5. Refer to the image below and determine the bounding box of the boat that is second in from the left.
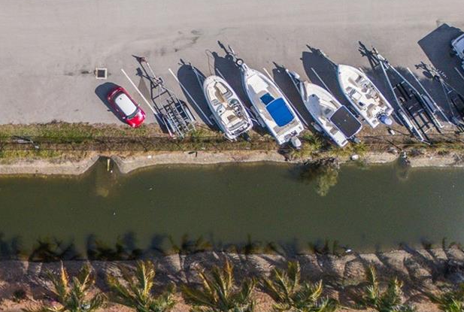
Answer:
[249,69,308,148]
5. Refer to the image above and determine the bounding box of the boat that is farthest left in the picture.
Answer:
[208,81,256,148]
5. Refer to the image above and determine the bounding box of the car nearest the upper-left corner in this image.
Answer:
[106,81,144,129]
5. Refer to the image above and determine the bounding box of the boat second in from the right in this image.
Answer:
[309,86,362,154]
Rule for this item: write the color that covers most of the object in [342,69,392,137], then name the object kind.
white boat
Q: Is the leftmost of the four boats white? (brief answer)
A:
Yes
